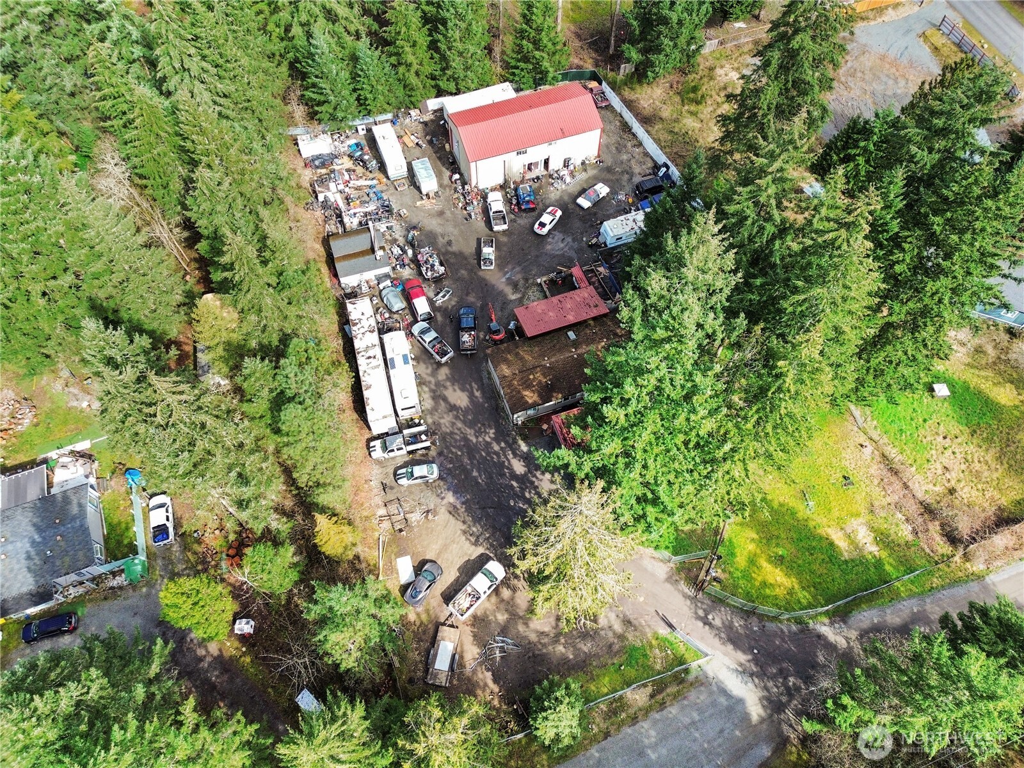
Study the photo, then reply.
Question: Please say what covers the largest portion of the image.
trees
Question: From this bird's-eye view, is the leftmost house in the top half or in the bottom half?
bottom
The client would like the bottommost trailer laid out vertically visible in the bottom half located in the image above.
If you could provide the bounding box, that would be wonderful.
[425,615,461,687]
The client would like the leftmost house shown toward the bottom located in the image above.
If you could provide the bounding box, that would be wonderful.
[0,476,108,639]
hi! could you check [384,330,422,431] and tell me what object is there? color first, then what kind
white trailer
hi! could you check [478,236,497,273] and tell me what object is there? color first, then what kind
white vehicle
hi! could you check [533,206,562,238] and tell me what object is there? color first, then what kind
white car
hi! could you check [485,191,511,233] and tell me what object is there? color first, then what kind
white truck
